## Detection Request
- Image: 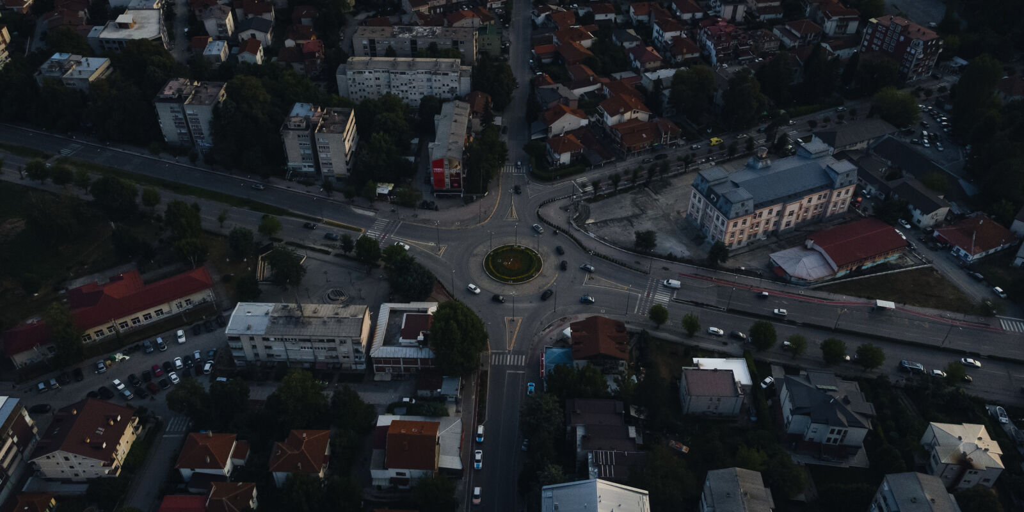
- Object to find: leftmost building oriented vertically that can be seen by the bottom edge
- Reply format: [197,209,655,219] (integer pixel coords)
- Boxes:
[0,398,43,492]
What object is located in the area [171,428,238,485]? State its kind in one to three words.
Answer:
house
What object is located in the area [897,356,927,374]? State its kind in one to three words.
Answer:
vehicle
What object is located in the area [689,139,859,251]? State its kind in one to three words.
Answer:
building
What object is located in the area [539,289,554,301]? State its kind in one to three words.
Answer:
vehicle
